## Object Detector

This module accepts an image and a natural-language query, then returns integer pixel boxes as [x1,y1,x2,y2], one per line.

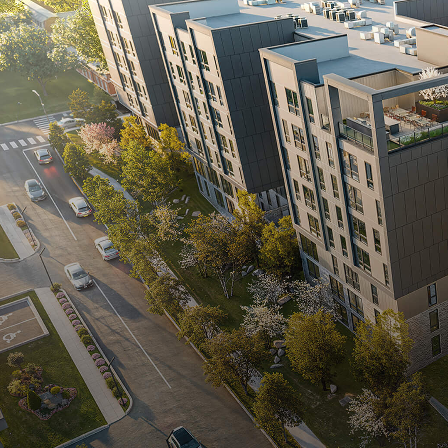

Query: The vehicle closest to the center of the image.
[87,239,116,261]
